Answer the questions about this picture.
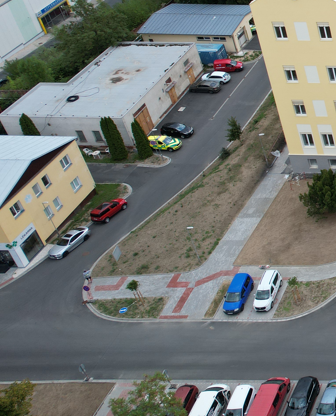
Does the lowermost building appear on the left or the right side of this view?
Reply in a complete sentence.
The lowermost building is on the left side of the image.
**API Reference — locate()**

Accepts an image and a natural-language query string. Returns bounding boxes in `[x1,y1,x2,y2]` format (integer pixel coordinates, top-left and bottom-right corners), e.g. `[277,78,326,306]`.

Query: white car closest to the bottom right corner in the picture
[221,388,257,416]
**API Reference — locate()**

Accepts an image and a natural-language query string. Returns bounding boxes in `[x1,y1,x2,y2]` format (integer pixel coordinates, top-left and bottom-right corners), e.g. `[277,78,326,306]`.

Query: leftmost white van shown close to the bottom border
[188,385,228,416]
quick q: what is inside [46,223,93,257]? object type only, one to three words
car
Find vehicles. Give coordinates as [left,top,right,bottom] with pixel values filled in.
[197,68,233,82]
[253,271,285,311]
[283,380,321,416]
[186,79,222,93]
[46,223,93,257]
[222,271,258,315]
[249,378,290,416]
[221,388,257,416]
[85,194,132,221]
[210,56,244,71]
[188,385,228,416]
[160,388,199,416]
[148,132,183,149]
[314,381,336,416]
[156,119,195,136]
